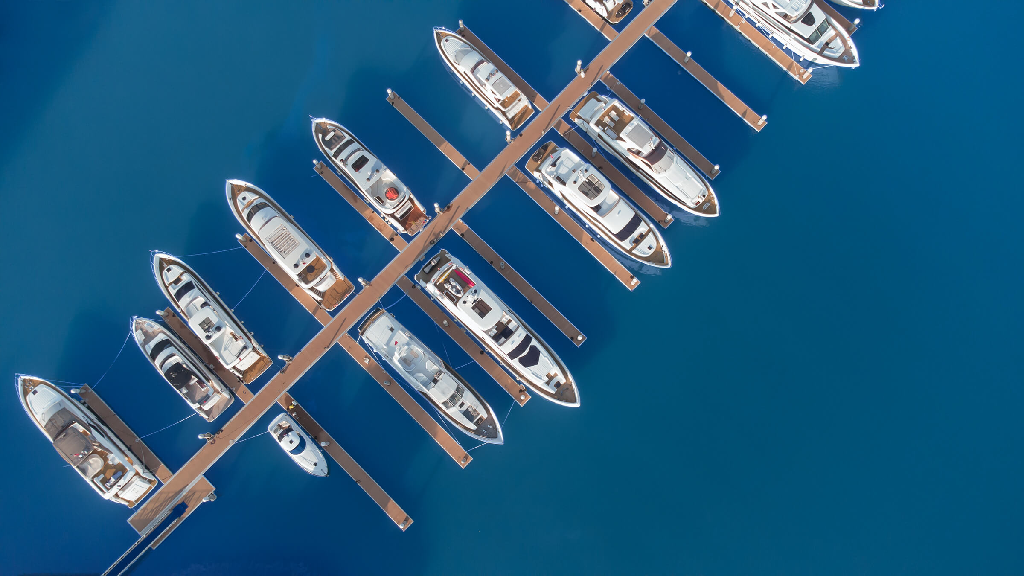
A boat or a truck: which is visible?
boat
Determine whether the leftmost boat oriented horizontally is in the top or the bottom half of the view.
top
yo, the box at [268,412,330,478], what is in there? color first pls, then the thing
white boat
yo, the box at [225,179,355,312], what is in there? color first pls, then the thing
white boat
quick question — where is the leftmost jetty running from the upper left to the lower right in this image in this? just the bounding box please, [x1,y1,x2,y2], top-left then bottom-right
[77,382,173,485]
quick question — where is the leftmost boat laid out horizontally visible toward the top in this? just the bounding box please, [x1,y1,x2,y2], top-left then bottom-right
[581,0,633,25]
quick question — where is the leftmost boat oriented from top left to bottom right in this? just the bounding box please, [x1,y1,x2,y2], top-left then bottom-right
[15,374,159,508]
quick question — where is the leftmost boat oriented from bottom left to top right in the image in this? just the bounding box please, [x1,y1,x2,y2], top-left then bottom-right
[107,472,123,487]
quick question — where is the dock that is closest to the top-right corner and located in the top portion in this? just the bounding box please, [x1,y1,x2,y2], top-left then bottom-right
[814,0,858,38]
